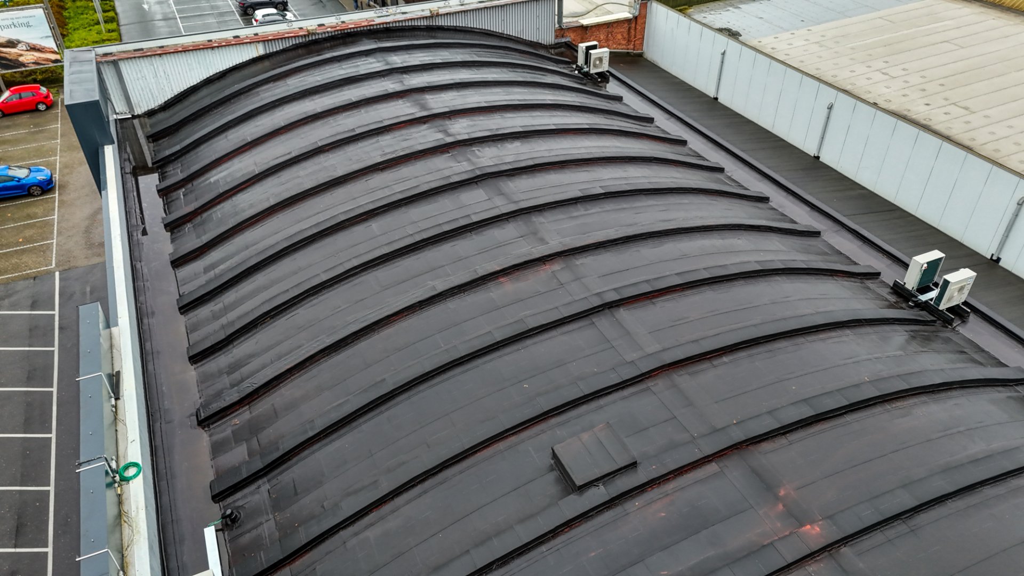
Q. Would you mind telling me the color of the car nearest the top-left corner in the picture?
red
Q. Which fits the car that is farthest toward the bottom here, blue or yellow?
blue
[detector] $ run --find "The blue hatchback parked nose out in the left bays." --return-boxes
[0,164,55,200]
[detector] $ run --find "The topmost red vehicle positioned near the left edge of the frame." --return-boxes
[0,83,51,116]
